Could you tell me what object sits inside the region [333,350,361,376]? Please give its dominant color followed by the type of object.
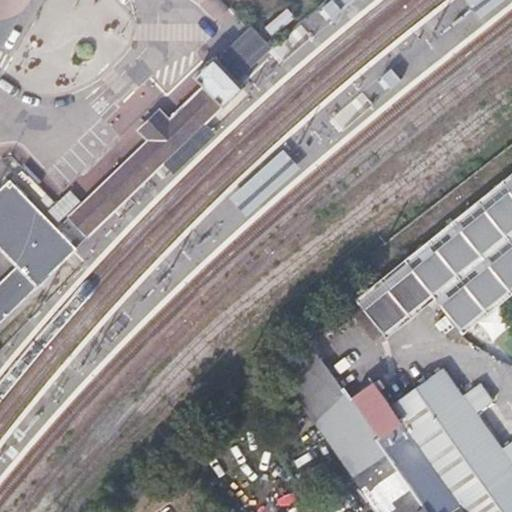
white truck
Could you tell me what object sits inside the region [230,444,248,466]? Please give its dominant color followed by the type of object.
white vehicle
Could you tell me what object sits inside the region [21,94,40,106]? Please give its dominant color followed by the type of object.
white vehicle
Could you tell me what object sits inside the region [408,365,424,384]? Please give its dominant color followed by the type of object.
white car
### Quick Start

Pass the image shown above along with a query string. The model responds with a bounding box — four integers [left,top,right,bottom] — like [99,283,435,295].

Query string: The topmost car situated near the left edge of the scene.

[4,28,20,48]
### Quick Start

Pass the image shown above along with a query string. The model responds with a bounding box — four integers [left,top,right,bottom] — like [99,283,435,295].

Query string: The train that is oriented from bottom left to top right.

[0,273,102,402]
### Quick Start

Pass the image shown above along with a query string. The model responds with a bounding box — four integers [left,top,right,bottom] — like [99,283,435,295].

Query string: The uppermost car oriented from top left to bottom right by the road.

[199,16,218,36]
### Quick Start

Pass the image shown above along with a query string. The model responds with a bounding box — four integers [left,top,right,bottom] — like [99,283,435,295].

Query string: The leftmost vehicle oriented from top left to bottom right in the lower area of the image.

[208,458,227,480]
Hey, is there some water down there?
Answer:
No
